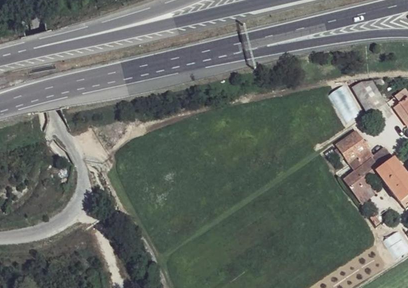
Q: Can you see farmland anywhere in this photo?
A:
Yes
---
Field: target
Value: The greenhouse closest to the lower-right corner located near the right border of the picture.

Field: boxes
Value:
[383,232,408,259]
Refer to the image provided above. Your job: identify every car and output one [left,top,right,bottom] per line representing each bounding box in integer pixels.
[372,144,383,154]
[394,126,402,136]
[353,15,365,21]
